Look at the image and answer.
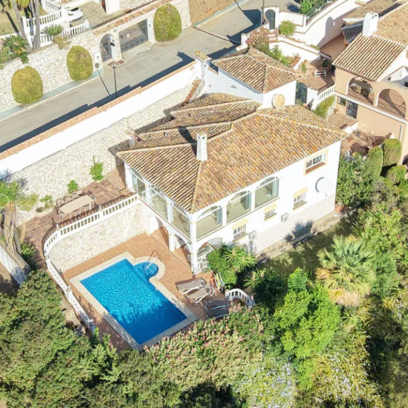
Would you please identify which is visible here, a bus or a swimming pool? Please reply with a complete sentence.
It is a swimming pool that can be seen here.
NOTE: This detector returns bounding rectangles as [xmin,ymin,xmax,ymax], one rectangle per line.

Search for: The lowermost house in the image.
[114,90,349,263]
